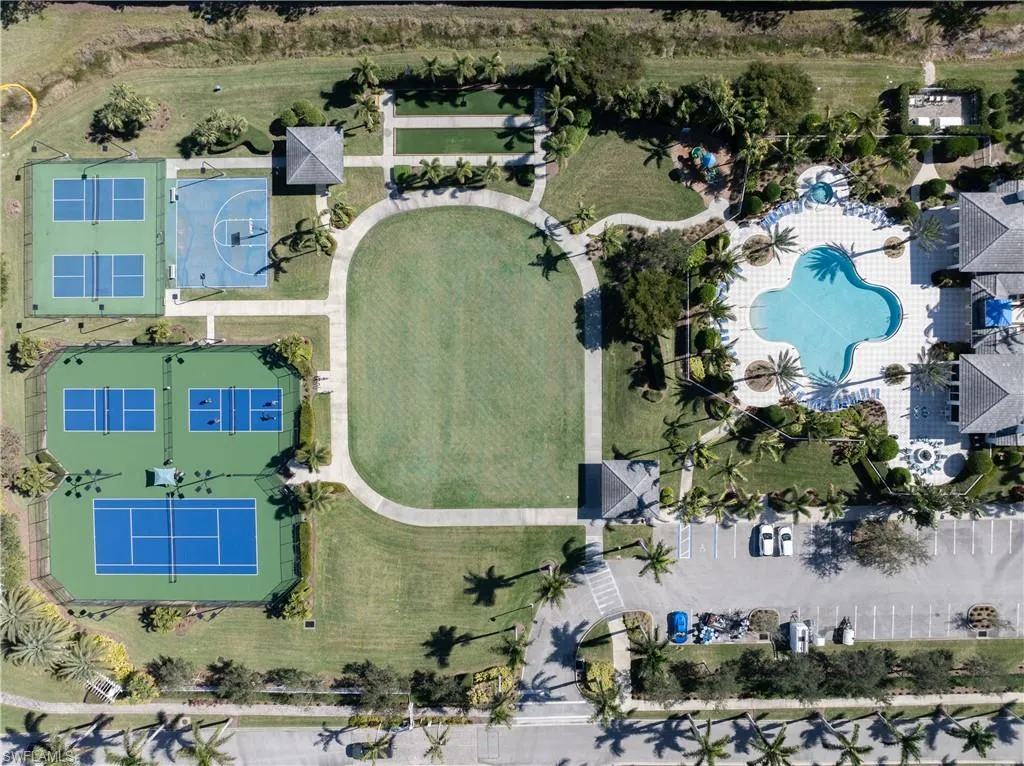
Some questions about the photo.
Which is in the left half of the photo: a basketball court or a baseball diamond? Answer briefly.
basketball court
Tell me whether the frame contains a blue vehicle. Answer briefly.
Yes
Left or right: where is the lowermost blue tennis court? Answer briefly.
left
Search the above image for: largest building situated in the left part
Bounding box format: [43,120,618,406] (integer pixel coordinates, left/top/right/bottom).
[286,126,344,186]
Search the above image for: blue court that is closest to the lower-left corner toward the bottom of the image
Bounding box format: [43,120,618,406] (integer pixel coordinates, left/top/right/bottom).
[92,492,257,582]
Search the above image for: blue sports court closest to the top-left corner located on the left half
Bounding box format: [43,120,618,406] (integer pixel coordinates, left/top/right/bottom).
[52,175,144,226]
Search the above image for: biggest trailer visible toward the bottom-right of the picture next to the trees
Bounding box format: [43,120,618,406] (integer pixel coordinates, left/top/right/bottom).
[787,610,810,658]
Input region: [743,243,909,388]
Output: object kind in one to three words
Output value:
swimming pool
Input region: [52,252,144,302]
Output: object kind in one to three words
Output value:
sports court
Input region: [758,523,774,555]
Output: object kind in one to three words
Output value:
car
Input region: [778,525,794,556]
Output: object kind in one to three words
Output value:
car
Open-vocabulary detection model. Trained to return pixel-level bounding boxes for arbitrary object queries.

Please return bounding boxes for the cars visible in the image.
[673,611,689,643]
[351,741,385,759]
[778,525,794,556]
[758,523,774,555]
